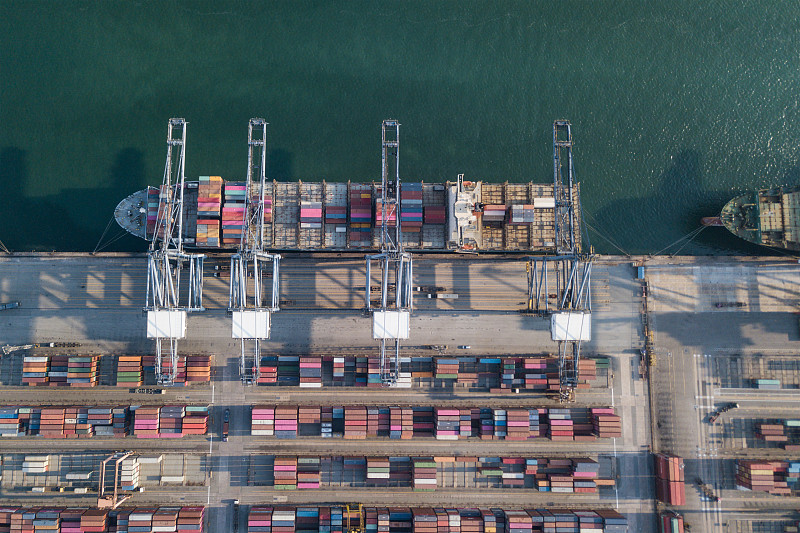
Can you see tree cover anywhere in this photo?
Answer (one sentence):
No, the scene doesn't show any tree cover.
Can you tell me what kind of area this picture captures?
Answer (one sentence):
This image shows a port.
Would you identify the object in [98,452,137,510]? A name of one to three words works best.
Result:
container crane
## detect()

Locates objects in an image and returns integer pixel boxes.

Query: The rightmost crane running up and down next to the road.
[519,118,593,385]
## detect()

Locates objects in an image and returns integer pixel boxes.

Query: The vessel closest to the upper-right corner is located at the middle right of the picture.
[699,184,800,253]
